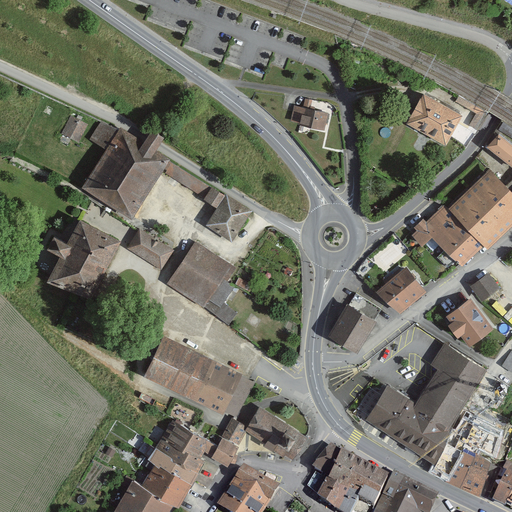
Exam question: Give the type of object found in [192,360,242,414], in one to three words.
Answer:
barn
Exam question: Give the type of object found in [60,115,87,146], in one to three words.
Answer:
shed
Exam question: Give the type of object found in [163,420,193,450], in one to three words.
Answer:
building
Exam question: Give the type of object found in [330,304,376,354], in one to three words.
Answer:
house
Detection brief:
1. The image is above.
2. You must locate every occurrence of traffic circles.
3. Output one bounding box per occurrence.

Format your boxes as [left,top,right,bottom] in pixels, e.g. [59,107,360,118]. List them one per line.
[300,204,366,270]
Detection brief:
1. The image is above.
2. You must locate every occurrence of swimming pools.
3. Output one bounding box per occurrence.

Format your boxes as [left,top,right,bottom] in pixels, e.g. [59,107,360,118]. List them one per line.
[380,126,392,138]
[497,322,510,335]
